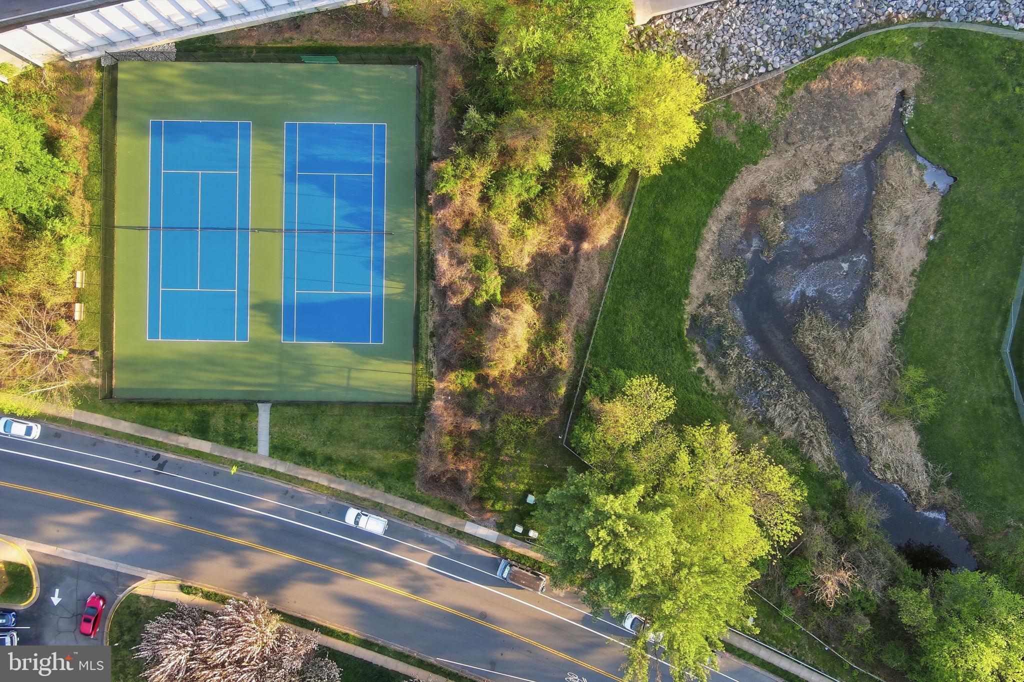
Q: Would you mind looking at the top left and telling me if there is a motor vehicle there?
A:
No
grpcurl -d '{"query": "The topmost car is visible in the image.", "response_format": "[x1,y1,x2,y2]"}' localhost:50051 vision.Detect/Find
[0,416,45,441]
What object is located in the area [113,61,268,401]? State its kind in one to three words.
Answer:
tennis court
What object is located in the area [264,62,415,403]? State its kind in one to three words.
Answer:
tennis court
